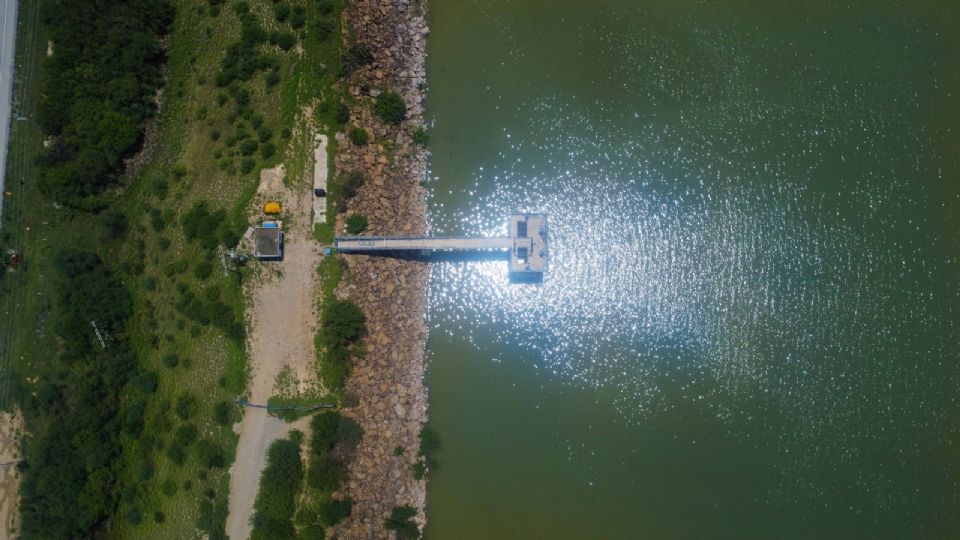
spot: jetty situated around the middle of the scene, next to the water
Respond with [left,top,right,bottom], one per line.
[332,235,512,256]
